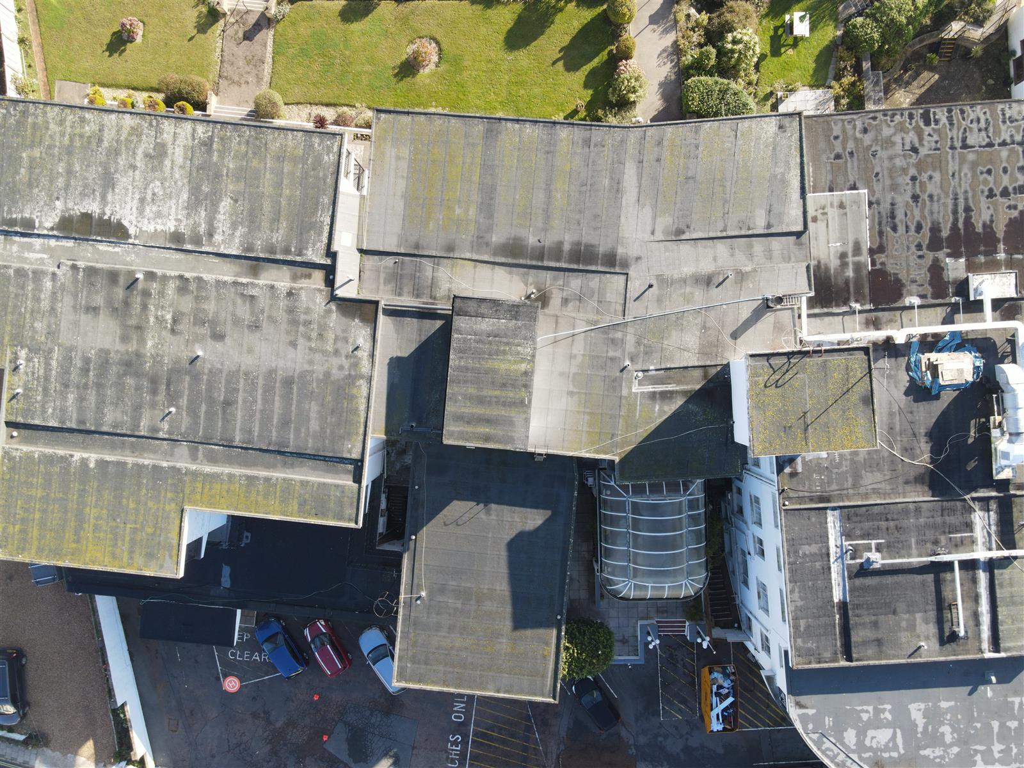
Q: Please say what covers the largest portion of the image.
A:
buildings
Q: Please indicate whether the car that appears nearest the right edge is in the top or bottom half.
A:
bottom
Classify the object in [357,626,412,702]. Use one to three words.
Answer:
car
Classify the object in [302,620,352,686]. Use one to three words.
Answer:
car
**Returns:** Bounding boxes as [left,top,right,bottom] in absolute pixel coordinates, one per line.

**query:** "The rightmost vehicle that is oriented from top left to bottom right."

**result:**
[570,675,627,745]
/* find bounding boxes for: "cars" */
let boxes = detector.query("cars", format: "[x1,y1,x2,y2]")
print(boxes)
[570,675,627,745]
[357,626,412,702]
[0,650,26,731]
[253,618,309,686]
[302,620,352,686]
